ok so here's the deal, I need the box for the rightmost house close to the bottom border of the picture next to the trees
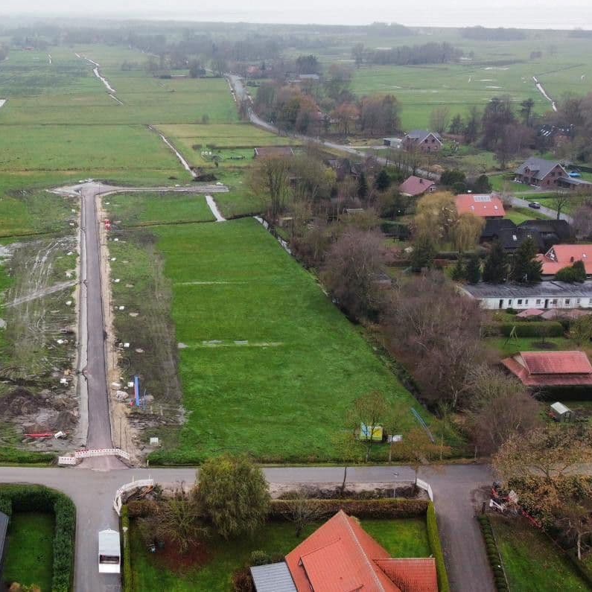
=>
[274,507,450,592]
